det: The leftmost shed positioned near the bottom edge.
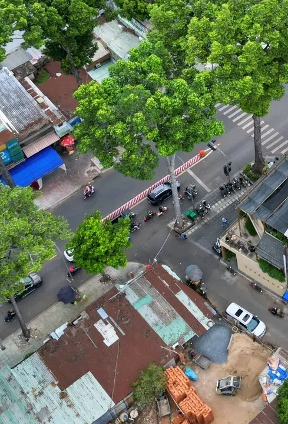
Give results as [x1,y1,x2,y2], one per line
[0,264,217,424]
